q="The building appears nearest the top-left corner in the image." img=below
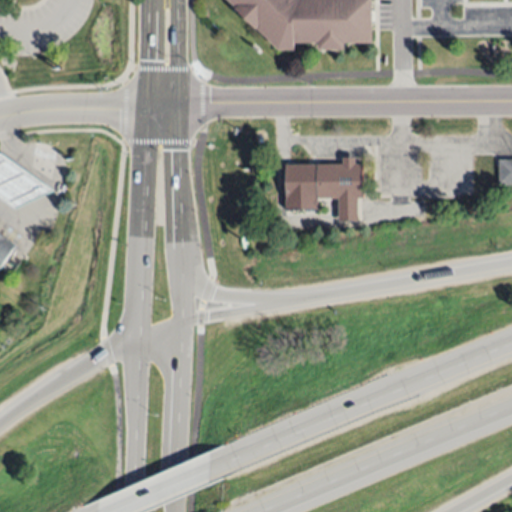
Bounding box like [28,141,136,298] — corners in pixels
[0,152,54,209]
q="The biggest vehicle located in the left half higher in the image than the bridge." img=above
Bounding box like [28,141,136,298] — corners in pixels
[89,350,108,364]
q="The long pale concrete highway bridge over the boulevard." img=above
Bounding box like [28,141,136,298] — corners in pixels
[86,449,212,512]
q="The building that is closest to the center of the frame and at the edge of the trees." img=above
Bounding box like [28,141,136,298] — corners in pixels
[285,158,362,221]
